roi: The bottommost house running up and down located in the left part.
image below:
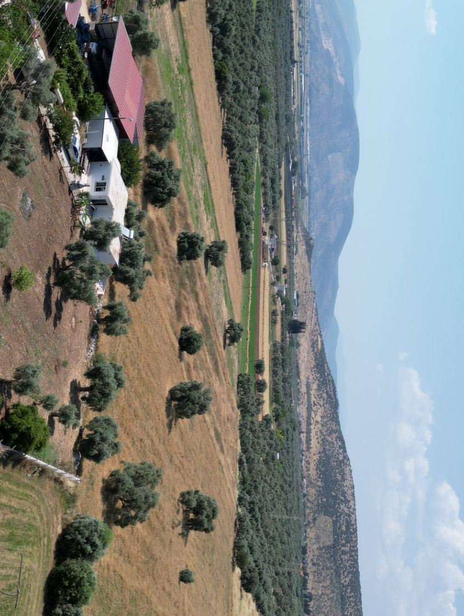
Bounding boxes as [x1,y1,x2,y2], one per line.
[88,155,128,267]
